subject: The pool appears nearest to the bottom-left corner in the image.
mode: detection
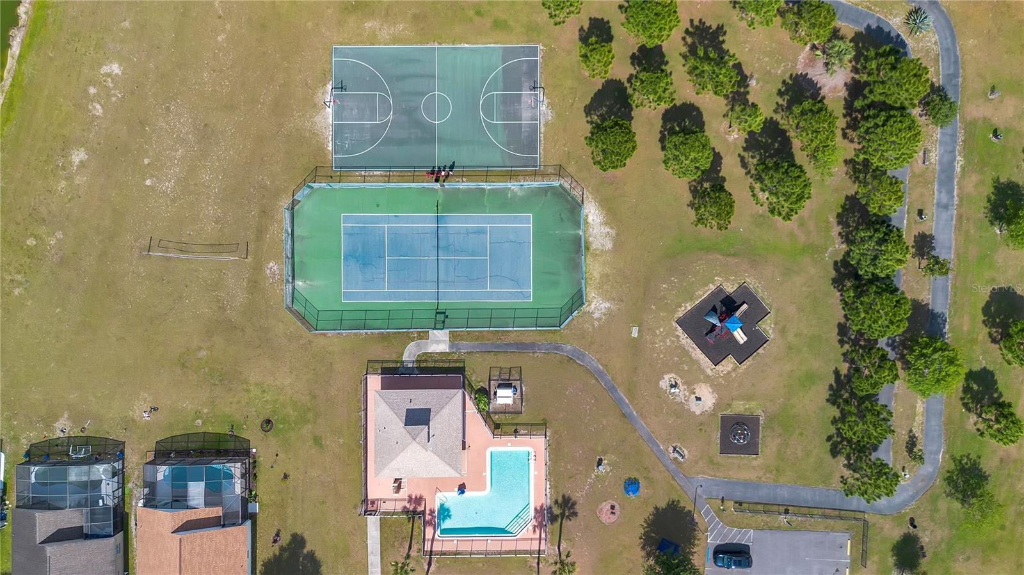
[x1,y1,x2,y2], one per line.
[36,464,111,491]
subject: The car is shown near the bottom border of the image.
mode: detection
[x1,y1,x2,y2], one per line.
[711,548,750,569]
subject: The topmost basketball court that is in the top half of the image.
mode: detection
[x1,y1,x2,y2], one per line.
[332,45,540,170]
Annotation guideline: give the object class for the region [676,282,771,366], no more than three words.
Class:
playground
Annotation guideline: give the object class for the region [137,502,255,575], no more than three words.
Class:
house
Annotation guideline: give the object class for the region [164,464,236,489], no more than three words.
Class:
swimming pool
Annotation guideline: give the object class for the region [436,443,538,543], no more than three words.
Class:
swimming pool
